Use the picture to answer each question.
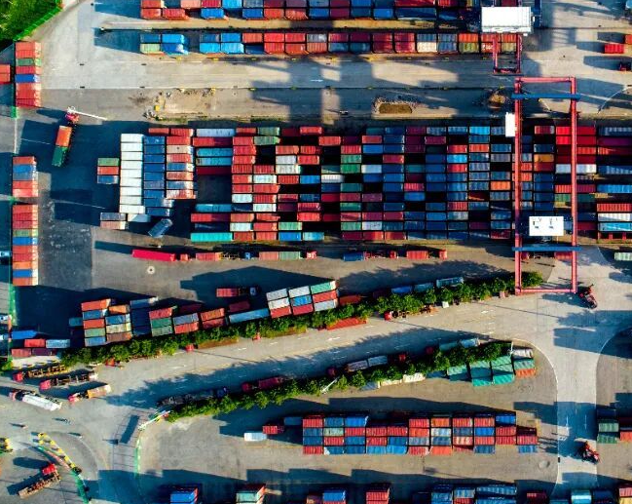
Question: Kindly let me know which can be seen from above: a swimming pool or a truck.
truck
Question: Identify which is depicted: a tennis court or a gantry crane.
gantry crane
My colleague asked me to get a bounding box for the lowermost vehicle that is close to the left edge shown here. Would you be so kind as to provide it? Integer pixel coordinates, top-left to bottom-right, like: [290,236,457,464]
[20,466,71,498]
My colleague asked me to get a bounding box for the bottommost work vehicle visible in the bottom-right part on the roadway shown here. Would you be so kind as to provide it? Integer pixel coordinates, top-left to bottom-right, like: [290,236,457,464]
[566,430,600,465]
